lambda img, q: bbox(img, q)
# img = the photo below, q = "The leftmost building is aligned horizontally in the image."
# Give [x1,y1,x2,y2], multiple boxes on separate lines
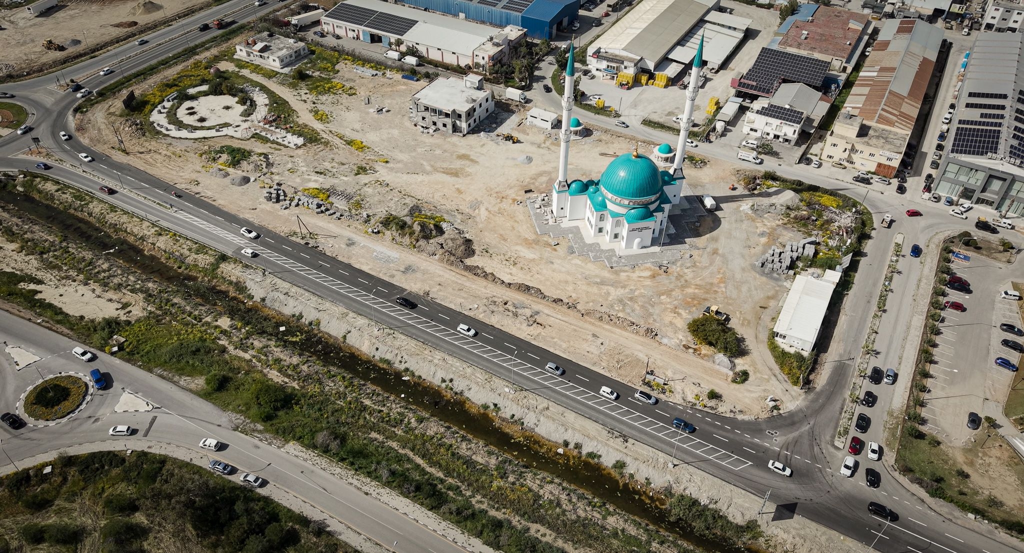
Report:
[230,32,315,71]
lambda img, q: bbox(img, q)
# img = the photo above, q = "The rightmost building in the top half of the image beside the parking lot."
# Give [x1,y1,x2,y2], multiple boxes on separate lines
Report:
[933,36,1024,221]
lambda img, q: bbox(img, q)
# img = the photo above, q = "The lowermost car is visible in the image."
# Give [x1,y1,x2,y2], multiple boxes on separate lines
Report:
[868,501,898,523]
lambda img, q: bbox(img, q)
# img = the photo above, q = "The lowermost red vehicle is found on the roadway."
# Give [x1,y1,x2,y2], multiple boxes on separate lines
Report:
[848,436,861,456]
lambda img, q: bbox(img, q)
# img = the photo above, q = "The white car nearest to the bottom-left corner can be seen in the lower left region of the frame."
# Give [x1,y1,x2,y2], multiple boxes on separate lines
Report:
[108,425,133,438]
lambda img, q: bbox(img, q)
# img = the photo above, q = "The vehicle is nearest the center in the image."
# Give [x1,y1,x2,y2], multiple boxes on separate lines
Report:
[457,324,476,338]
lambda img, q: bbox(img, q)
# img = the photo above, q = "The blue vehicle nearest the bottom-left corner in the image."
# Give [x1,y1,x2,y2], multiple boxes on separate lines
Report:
[90,368,106,390]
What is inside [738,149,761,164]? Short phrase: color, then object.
white vehicle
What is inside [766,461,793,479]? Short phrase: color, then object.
white car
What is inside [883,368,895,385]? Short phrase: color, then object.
gray vehicle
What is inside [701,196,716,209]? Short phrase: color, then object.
white vehicle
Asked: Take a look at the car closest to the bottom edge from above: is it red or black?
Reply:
black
